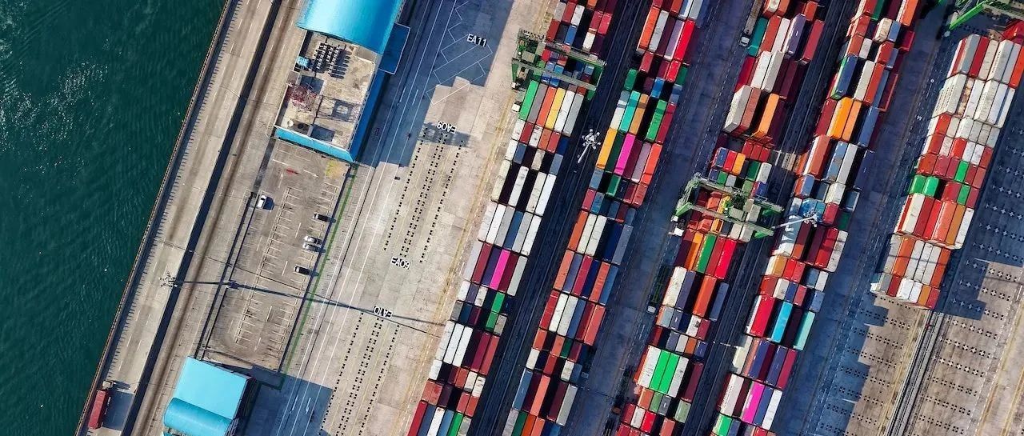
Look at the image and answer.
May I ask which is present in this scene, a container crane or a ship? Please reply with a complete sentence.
There is a container crane in the scene.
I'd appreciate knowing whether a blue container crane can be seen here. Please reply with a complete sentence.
No, the photo shows no blue container crane.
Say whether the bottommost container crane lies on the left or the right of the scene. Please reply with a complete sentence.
The bottommost container crane sits on the right side.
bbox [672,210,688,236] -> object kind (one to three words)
vehicle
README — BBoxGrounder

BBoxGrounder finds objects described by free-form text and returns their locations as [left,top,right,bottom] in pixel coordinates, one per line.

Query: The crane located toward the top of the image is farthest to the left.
[506,29,607,112]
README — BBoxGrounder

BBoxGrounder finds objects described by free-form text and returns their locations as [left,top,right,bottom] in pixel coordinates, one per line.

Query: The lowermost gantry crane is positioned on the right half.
[668,175,784,244]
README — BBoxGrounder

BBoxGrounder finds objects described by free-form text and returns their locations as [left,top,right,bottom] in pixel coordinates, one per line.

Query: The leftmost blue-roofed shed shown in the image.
[157,356,259,436]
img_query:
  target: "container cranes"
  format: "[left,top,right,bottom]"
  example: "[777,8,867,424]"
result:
[506,29,607,112]
[942,0,1024,50]
[668,175,784,244]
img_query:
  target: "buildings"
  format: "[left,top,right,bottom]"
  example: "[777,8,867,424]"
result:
[273,0,412,162]
[157,356,259,436]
